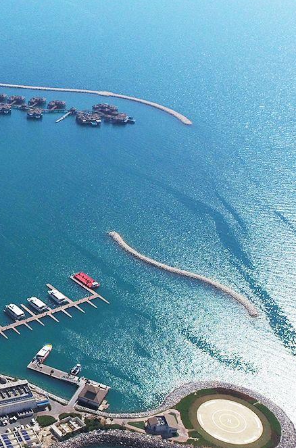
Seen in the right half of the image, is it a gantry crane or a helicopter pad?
helicopter pad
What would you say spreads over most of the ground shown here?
water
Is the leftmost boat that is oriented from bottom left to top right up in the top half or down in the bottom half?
bottom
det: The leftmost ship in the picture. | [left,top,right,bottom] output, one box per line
[6,305,25,320]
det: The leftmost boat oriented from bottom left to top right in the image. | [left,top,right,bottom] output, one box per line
[32,343,53,363]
